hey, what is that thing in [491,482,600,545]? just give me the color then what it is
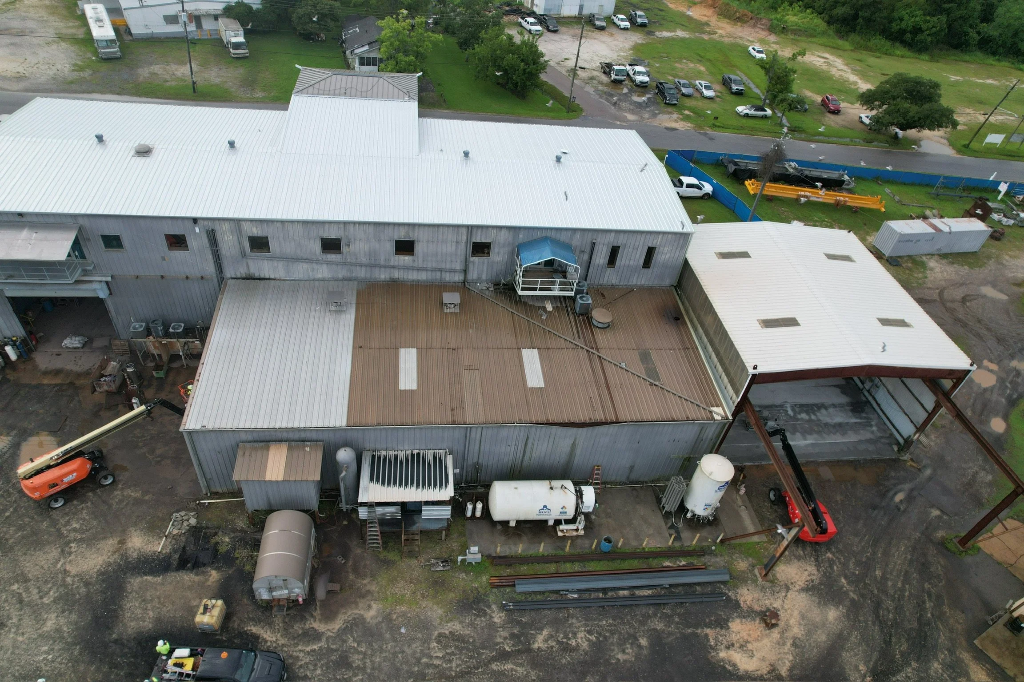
white storage tank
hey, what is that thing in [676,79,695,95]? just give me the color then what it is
gray car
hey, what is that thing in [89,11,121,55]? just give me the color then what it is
white camper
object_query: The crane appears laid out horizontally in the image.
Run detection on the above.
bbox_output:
[748,176,891,221]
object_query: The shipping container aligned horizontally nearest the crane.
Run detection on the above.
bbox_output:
[871,219,988,258]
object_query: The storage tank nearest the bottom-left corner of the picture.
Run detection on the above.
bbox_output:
[252,509,319,623]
